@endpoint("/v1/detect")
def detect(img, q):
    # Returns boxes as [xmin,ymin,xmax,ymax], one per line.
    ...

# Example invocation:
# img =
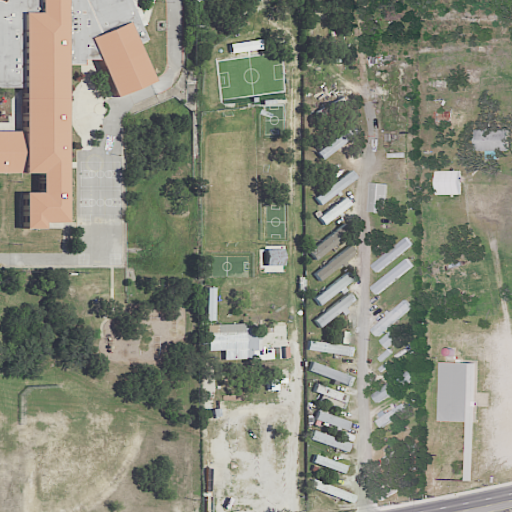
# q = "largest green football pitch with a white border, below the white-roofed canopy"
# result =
[216,52,287,104]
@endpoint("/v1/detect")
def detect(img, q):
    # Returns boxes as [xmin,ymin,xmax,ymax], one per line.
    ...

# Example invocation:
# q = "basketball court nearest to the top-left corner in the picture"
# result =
[80,162,121,188]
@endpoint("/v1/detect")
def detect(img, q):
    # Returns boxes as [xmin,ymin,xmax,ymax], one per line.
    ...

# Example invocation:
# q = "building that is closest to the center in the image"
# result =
[260,246,288,272]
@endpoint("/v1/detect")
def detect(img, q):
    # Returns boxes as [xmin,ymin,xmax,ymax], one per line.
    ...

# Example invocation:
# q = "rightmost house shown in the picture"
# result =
[472,130,508,152]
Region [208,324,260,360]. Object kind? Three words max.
building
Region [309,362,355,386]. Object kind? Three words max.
house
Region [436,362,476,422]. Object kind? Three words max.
building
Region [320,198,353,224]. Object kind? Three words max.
house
